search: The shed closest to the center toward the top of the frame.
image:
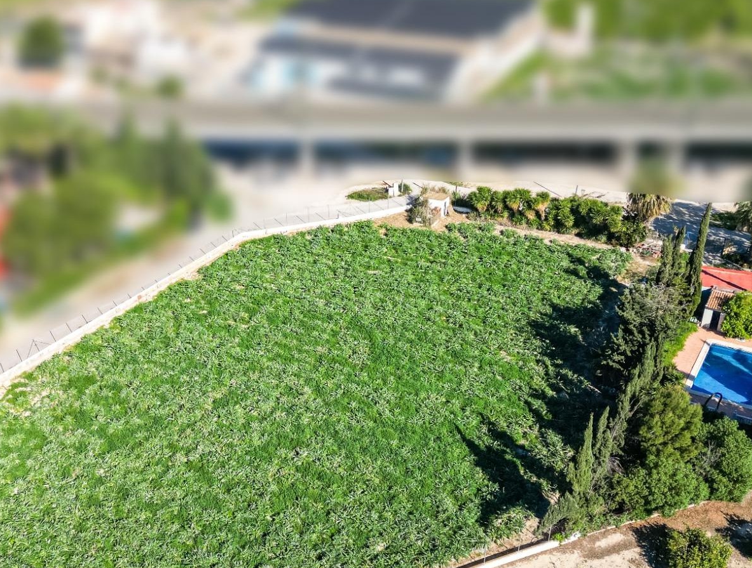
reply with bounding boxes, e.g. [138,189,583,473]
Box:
[424,191,449,218]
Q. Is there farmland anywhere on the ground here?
Yes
